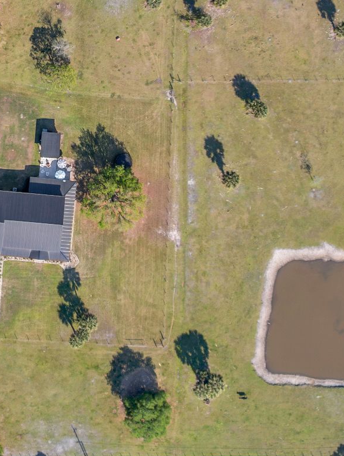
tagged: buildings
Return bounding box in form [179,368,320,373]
[40,132,61,158]
[0,177,77,263]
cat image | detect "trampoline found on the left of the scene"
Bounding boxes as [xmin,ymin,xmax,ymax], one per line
[115,152,133,169]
